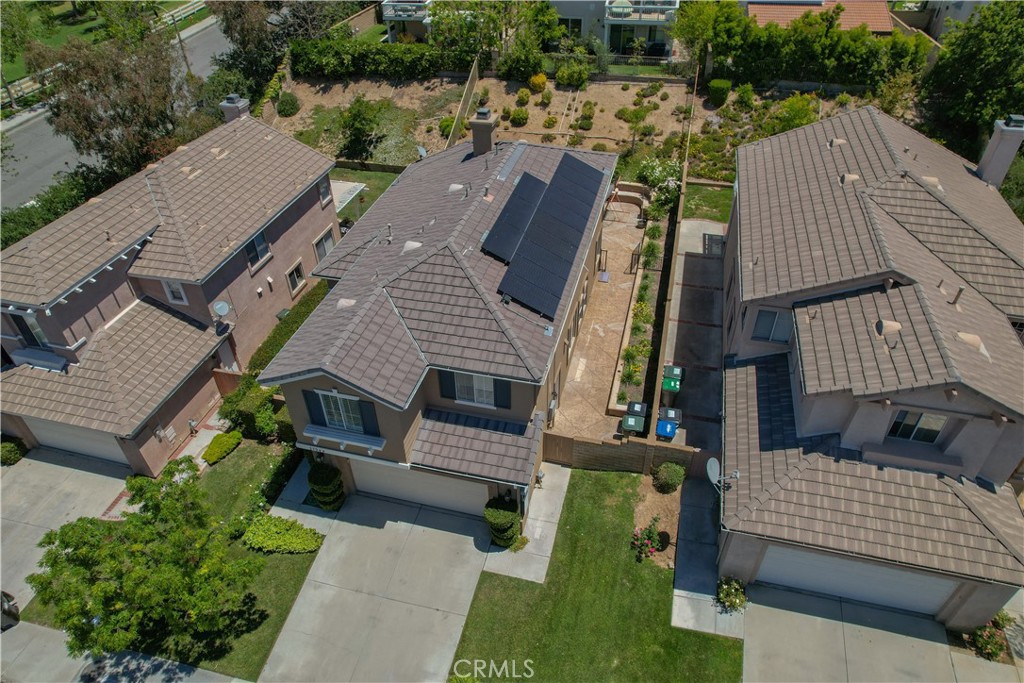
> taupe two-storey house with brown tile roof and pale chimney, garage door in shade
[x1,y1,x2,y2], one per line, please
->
[715,105,1024,633]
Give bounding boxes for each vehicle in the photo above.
[0,596,23,640]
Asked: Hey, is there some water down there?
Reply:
No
